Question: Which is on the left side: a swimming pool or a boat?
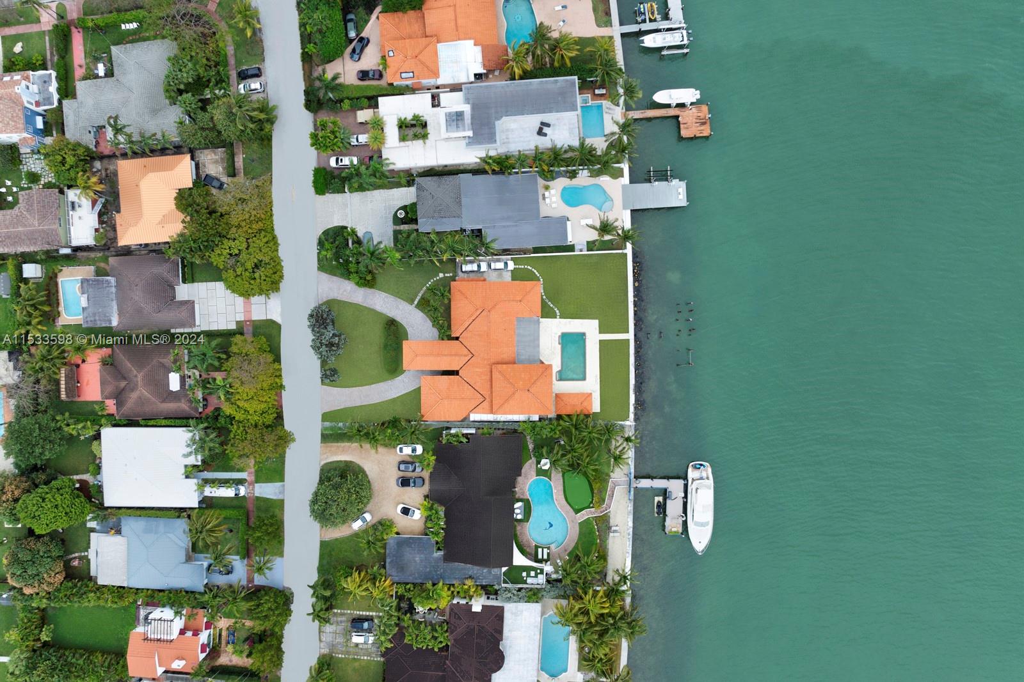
swimming pool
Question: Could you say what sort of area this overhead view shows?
residential area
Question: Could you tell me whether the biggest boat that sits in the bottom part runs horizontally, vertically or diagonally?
vertically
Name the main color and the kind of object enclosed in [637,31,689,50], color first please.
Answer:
white boat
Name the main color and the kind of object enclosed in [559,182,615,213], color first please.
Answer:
blue swimming pool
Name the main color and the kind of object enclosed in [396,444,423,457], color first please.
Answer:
white vehicle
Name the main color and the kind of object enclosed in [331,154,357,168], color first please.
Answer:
white car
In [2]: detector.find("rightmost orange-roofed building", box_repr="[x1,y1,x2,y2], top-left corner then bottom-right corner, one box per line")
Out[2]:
[555,393,592,414]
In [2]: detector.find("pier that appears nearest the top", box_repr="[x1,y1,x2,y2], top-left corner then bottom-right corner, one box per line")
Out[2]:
[619,0,684,34]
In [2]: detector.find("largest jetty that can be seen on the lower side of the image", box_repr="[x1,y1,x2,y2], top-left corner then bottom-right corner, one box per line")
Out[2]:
[632,476,686,536]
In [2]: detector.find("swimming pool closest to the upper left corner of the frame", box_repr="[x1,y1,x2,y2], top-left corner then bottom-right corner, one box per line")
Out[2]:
[58,277,82,319]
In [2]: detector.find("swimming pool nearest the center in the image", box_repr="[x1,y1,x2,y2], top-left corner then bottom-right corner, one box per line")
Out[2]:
[556,331,587,382]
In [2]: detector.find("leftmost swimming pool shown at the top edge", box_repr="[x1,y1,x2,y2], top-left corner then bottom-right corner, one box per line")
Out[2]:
[501,0,539,54]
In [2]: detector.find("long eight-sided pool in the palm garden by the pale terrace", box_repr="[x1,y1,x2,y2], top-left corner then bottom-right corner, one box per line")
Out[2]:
[540,611,572,680]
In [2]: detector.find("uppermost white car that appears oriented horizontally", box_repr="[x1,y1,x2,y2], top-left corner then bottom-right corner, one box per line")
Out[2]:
[237,80,264,93]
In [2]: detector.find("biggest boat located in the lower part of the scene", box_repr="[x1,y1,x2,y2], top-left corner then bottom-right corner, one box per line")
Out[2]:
[686,461,713,555]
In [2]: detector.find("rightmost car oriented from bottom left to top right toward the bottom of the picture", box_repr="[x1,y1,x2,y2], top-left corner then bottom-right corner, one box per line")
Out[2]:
[350,511,373,532]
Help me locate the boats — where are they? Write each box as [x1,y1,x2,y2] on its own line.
[653,89,698,105]
[637,0,645,20]
[637,31,689,50]
[648,0,656,21]
[656,500,662,517]
[686,461,713,555]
